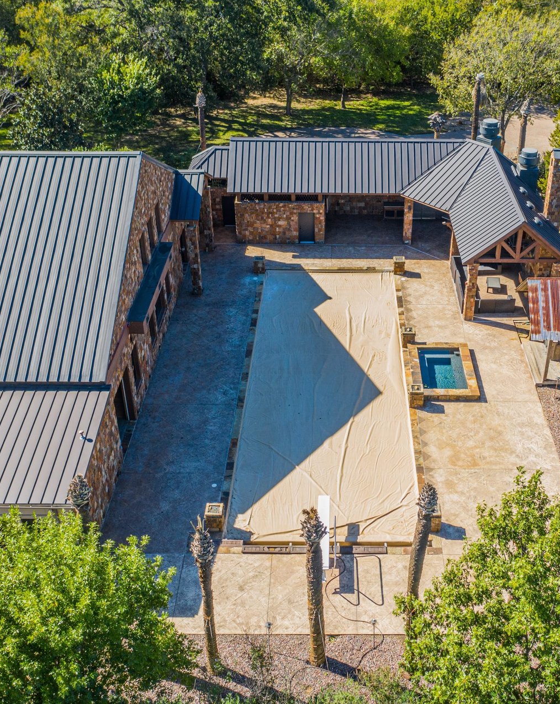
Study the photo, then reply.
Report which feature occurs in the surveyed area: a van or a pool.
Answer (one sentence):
This aerial view contains a pool.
